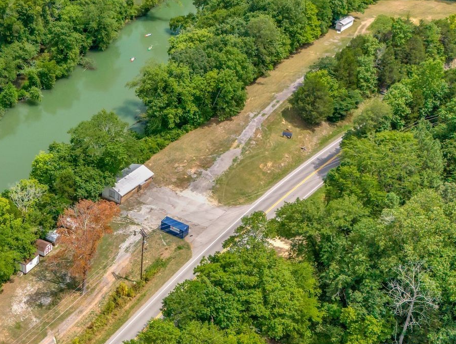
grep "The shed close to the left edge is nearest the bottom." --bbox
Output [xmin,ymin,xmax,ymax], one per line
[13,248,40,273]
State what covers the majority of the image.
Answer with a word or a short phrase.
trees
